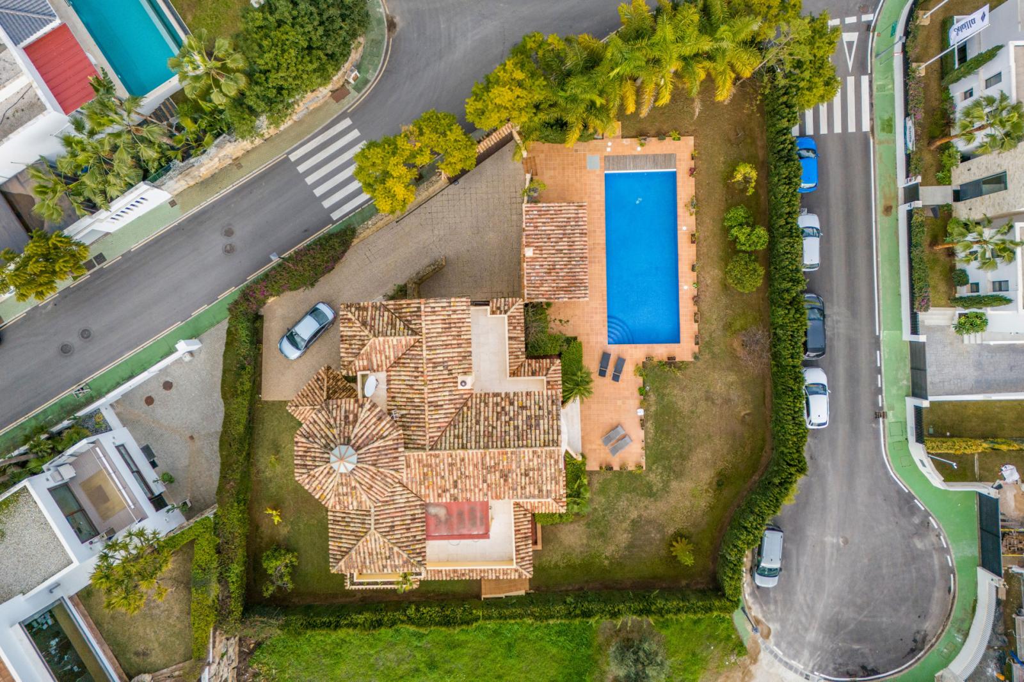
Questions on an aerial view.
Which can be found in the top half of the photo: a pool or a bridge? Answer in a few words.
pool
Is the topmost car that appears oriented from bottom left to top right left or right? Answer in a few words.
left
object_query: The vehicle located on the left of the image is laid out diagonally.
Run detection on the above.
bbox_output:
[276,298,339,362]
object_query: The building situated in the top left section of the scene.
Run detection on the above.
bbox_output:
[0,0,111,237]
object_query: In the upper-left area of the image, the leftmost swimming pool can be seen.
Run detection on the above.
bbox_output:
[54,0,193,109]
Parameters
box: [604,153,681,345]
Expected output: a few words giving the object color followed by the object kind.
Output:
blue swimming pool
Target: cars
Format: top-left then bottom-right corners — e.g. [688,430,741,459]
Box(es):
[797,293,831,361]
[799,366,834,431]
[276,298,339,362]
[795,137,823,194]
[797,214,825,272]
[751,526,790,589]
